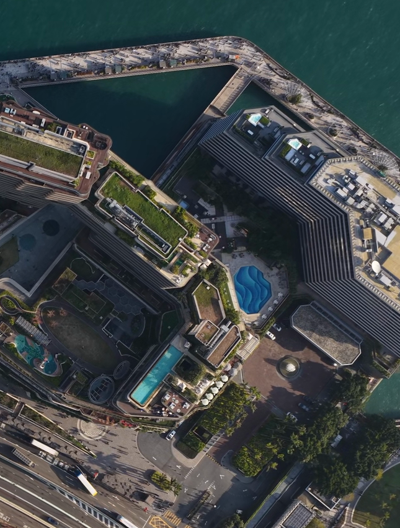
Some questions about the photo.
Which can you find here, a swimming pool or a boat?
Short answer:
swimming pool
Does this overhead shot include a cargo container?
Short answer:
No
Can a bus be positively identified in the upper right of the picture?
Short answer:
No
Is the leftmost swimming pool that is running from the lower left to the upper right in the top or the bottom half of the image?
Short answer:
bottom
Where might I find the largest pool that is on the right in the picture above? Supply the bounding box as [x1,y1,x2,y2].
[216,254,290,328]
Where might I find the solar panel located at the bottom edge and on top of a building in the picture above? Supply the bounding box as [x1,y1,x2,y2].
[283,504,310,528]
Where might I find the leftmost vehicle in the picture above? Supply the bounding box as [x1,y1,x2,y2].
[8,446,37,469]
